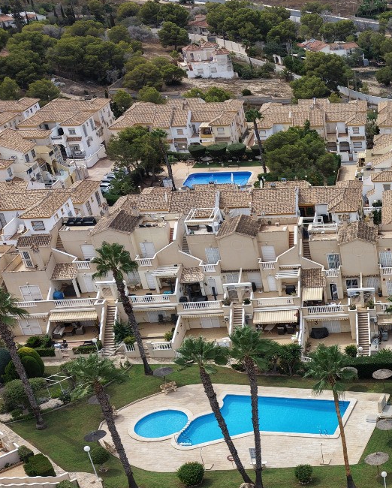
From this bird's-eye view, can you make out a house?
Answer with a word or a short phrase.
Yes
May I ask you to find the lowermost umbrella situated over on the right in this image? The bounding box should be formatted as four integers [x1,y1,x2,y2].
[360,452,390,475]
